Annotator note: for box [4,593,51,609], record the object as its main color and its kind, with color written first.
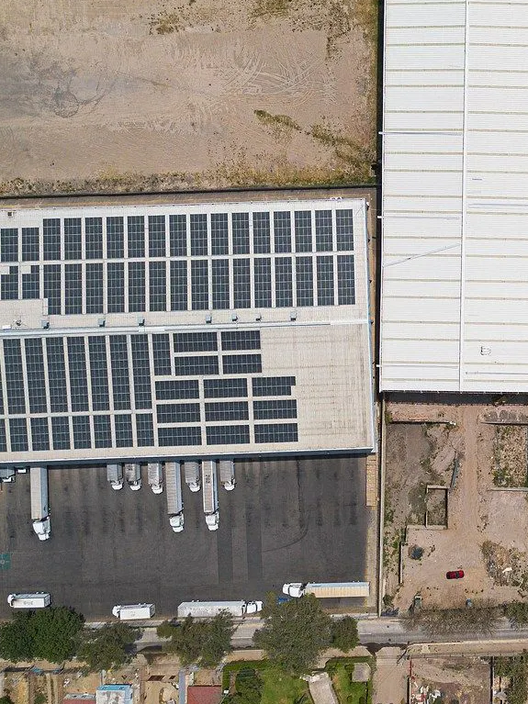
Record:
white vehicle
